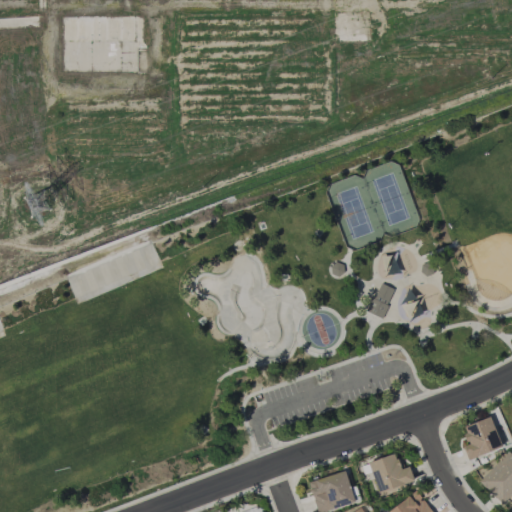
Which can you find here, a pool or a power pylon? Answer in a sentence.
The one in the frame is a power pylon.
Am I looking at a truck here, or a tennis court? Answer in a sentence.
This aerial view contains a tennis court.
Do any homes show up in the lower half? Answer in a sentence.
Yes, a home can be seen in the lower half.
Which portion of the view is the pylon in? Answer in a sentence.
The pylon is in the left part of the image.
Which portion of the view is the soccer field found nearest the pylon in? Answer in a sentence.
The soccer field found nearest the pylon is located in the bottom left region of the scene.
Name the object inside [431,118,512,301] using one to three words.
baseball field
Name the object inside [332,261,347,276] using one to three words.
gazebo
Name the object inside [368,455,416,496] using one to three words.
house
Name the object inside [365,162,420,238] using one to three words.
tennis court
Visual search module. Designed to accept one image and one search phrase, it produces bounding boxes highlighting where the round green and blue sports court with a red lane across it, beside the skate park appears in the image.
[304,311,340,349]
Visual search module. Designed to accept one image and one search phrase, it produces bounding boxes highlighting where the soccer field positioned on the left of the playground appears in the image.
[0,250,242,512]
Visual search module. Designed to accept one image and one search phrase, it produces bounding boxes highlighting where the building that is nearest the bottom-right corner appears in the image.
[482,454,512,504]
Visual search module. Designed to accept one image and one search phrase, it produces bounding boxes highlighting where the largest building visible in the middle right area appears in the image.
[370,281,398,319]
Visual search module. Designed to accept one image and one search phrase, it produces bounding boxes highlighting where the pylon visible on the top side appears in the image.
[24,181,52,226]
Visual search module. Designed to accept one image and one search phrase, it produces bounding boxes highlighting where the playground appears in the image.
[376,245,444,327]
